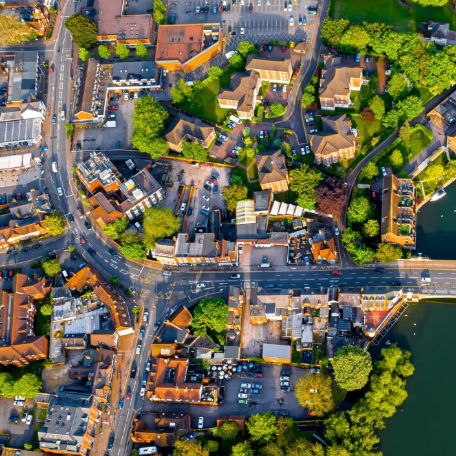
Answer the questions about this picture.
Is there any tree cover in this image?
Yes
